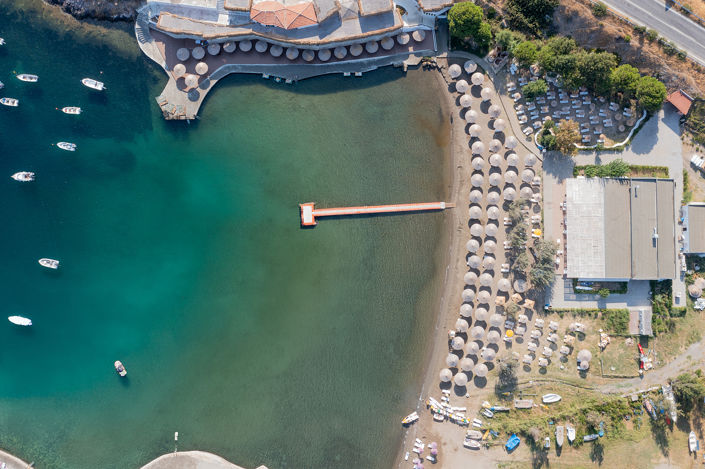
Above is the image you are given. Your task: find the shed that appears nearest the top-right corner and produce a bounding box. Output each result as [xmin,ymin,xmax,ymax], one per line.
[664,87,696,114]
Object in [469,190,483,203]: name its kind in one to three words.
umbrella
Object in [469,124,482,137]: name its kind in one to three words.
umbrella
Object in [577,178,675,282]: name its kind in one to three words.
building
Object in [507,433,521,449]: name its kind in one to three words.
boat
